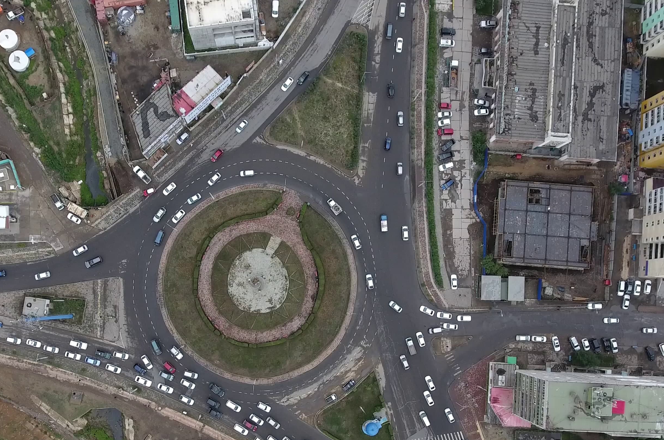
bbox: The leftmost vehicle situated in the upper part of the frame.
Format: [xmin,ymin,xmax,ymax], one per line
[6,7,26,23]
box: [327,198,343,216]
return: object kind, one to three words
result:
vehicle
